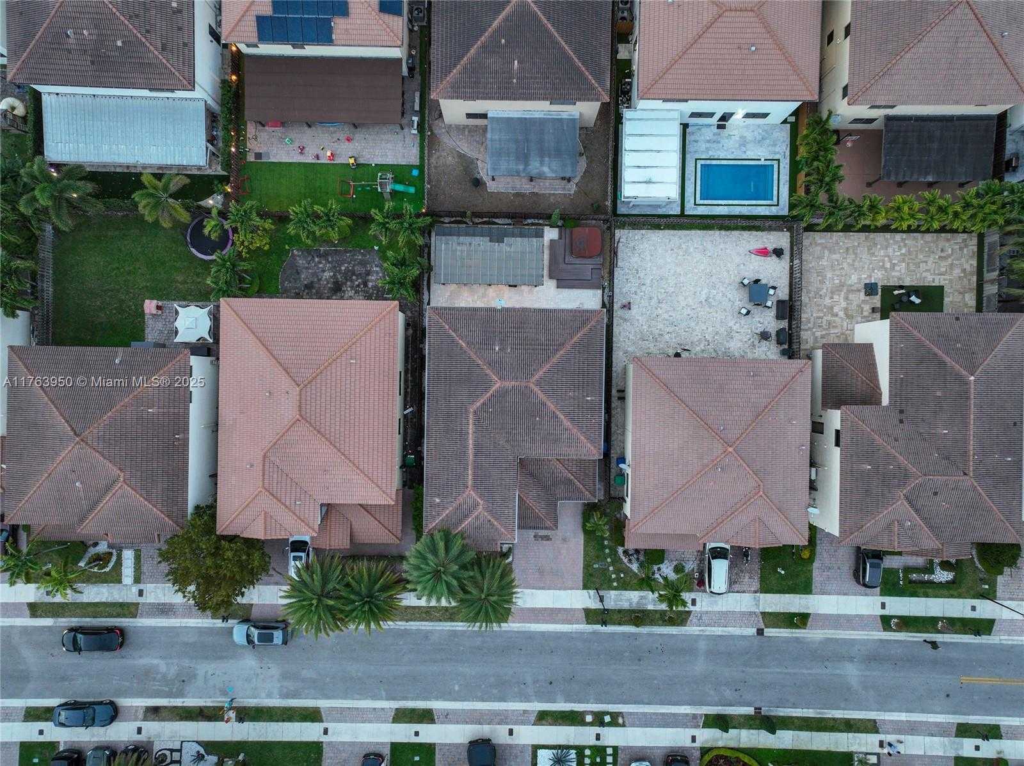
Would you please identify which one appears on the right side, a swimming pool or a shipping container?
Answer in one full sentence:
The feature located on the right side is a swimming pool.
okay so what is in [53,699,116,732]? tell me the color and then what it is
blue car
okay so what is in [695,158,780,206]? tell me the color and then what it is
blue swimming pool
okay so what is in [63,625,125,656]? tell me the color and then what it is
black car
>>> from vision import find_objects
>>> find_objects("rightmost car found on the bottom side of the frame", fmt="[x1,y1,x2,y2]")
[852,546,883,588]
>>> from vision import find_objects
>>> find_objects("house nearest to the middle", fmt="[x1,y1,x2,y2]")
[423,305,606,551]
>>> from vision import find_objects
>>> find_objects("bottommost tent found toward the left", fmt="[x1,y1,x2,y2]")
[174,304,219,344]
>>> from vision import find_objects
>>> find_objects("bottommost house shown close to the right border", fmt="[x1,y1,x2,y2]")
[811,311,1024,562]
